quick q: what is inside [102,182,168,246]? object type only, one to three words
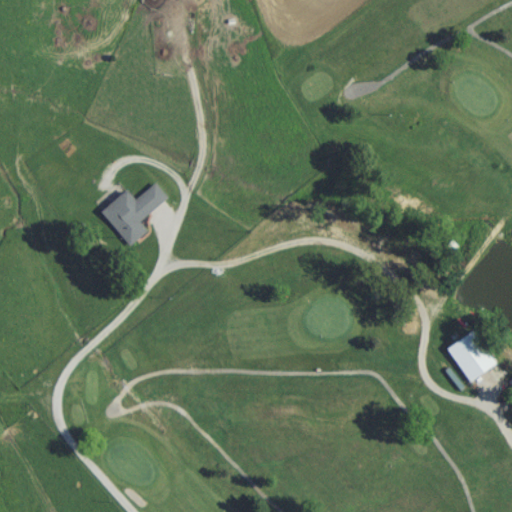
house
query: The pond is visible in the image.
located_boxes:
[460,242,512,326]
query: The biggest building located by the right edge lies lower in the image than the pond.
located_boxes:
[448,328,500,382]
